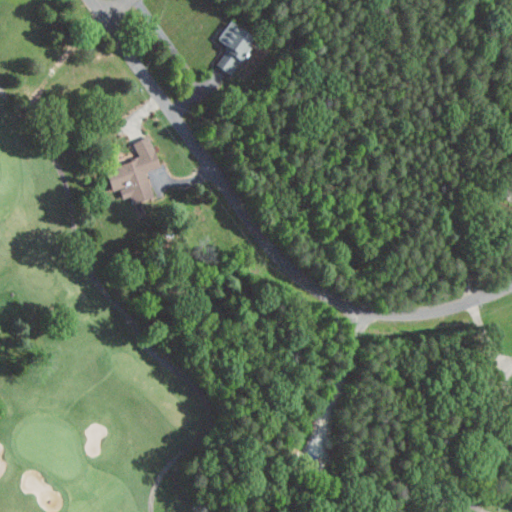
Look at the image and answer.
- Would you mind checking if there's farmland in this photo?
No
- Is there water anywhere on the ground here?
No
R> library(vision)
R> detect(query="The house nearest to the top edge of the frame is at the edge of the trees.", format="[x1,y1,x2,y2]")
[220,20,254,60]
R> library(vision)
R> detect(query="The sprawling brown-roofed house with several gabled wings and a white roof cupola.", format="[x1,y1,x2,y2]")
[106,138,160,206]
